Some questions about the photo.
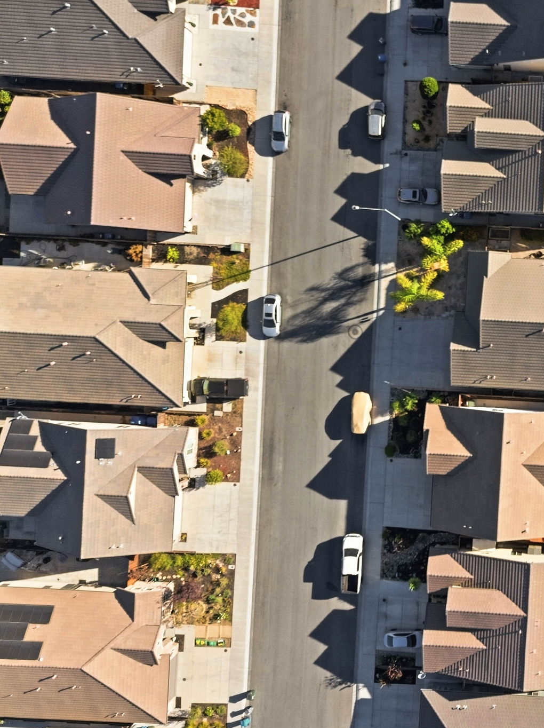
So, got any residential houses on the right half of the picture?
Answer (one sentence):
Yes, looking on the right half of the picture, one can make out a residential house.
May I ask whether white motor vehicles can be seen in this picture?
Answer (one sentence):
Yes, there's a white motor vehicle here.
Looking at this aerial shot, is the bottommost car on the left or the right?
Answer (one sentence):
You can find the bottommost car on the right side of the picture.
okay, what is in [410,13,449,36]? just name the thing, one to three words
car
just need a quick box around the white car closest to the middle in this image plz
[261,295,284,337]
